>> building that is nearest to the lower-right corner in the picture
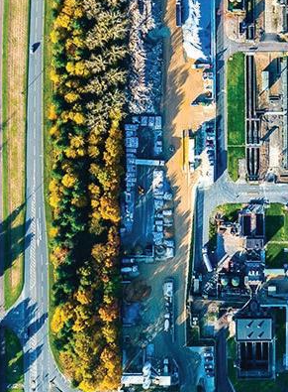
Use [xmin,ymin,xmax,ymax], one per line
[237,316,273,340]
